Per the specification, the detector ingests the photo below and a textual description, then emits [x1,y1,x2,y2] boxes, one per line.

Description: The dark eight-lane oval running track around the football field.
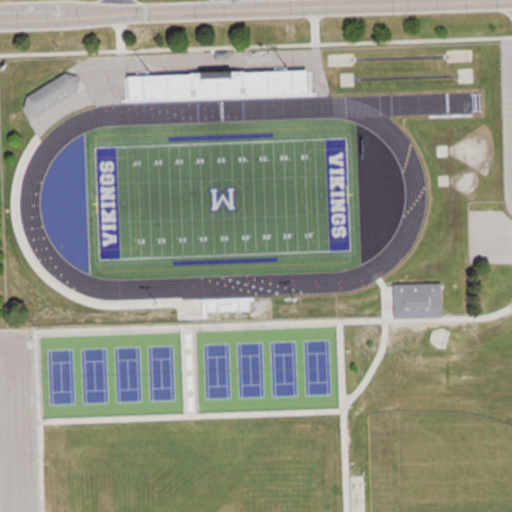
[20,92,471,300]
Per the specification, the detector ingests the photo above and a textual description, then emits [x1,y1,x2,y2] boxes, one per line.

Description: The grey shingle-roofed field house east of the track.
[394,284,443,318]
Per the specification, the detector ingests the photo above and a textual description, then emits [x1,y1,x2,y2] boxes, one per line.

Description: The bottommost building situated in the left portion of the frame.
[22,73,78,116]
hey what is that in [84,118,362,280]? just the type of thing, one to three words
sports field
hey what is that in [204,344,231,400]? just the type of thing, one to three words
tennis court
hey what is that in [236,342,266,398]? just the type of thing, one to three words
tennis court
